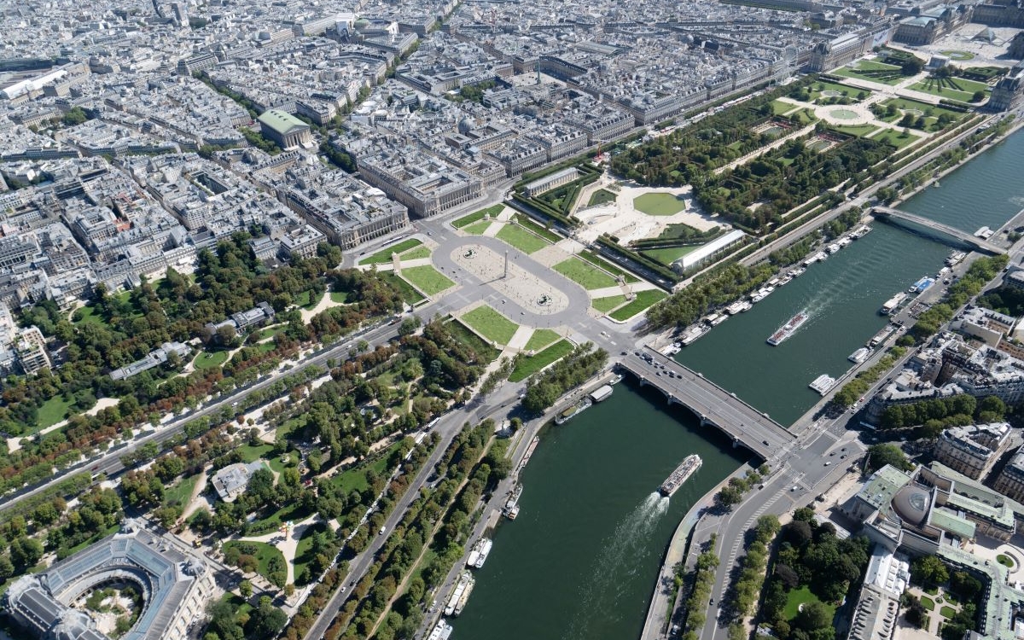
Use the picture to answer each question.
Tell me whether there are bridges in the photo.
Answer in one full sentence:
Yes, a bridge can be made out from above.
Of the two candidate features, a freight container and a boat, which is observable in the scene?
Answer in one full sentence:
Visible in the photo is a boat.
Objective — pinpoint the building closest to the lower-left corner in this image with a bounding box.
[9,520,213,640]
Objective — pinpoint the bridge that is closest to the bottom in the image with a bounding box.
[615,343,800,465]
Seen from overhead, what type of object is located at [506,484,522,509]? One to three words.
boat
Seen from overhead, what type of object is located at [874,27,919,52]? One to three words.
building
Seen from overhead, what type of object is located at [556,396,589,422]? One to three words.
boat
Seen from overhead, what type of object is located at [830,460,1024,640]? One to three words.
building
